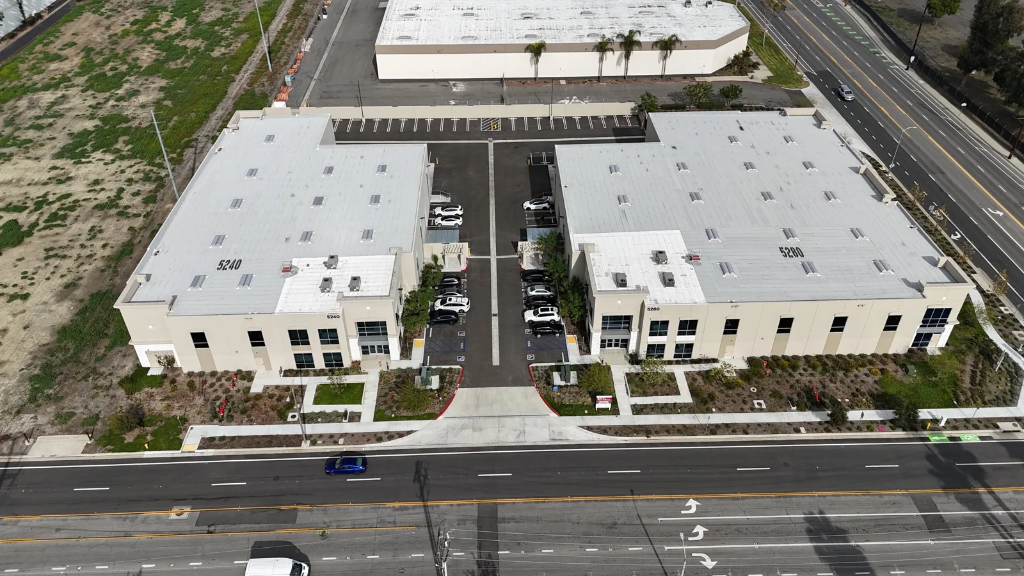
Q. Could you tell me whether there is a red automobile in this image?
No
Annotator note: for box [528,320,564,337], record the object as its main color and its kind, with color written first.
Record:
black car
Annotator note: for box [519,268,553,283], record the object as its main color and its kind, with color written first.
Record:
black car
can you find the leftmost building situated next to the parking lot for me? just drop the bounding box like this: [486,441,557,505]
[112,112,432,372]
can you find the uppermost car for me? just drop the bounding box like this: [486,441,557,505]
[838,87,853,101]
